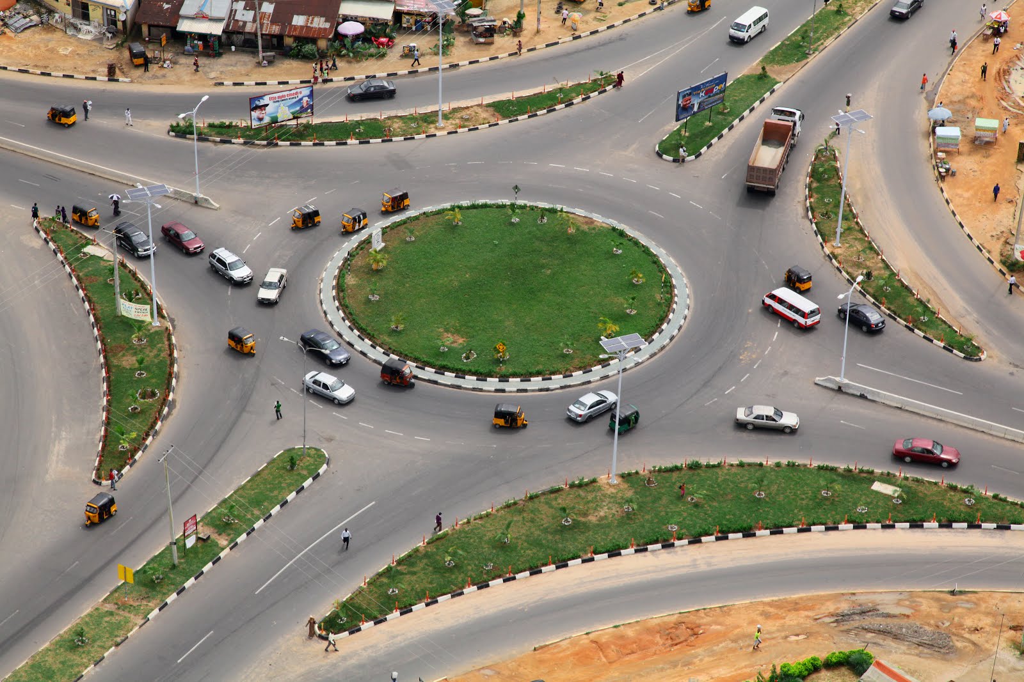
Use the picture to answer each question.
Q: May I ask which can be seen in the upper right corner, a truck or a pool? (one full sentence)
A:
The one visible in the upper right corner is a truck.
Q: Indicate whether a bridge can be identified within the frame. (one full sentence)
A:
No, no bridge can be seen from above.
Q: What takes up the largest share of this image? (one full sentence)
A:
The scene is dominated by paved ground.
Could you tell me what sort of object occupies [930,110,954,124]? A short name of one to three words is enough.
umbrella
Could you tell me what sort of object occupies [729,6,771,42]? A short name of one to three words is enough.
vehicle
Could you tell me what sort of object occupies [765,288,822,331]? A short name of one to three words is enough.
vehicle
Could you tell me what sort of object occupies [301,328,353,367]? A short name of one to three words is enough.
car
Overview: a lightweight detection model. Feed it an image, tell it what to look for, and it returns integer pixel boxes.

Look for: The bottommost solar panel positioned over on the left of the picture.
[126,184,170,198]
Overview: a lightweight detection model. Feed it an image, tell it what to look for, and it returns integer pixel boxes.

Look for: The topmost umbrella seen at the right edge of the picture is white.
[991,11,1012,25]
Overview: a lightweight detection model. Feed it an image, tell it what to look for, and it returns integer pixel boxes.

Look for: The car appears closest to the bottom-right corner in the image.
[892,437,962,467]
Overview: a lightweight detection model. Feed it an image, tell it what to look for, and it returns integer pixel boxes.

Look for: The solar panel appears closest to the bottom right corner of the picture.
[596,337,646,356]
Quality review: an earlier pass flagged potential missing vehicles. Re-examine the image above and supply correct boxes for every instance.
[687,0,712,13]
[289,202,322,230]
[79,489,119,527]
[607,403,644,436]
[736,404,803,433]
[890,0,925,18]
[226,323,259,357]
[45,100,76,126]
[208,245,257,285]
[380,357,417,387]
[781,264,815,294]
[892,437,962,467]
[765,288,822,331]
[338,205,370,235]
[125,40,146,65]
[301,370,360,404]
[255,269,288,305]
[565,388,622,423]
[162,222,207,254]
[72,198,103,228]
[729,6,771,42]
[491,400,530,429]
[379,186,411,214]
[344,78,396,101]
[301,328,353,367]
[746,111,799,190]
[834,300,889,334]
[113,219,159,257]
